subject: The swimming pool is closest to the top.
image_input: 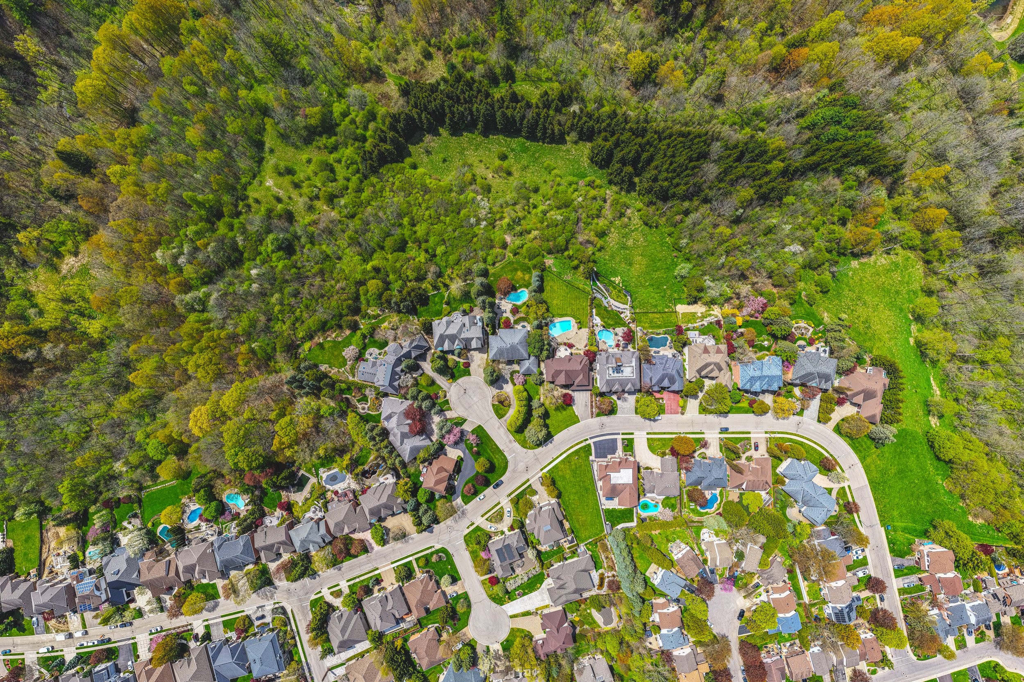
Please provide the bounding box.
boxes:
[505,289,530,304]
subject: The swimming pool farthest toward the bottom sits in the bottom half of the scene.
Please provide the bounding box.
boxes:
[596,607,615,628]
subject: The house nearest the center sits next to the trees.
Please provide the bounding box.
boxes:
[489,328,538,374]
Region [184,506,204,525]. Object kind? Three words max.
swimming pool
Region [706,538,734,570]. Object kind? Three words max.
house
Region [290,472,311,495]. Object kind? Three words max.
swimming pool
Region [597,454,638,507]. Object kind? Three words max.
house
